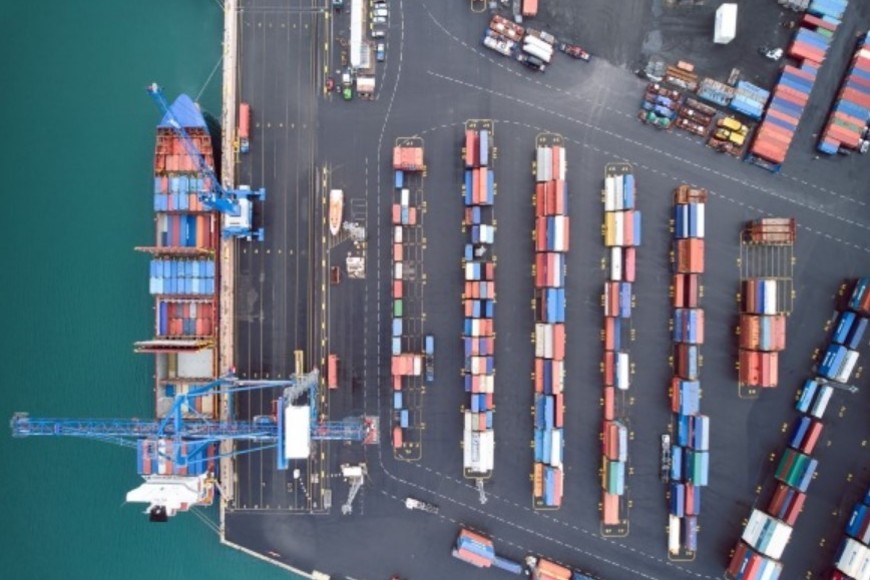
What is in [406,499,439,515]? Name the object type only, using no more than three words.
vehicle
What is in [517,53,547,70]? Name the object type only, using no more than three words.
vehicle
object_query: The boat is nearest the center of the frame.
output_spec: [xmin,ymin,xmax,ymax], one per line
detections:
[329,189,342,235]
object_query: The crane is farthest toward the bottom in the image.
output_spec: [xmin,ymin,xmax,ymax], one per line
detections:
[11,367,377,469]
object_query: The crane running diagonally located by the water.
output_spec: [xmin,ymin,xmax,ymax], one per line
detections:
[146,86,267,241]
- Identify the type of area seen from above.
port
